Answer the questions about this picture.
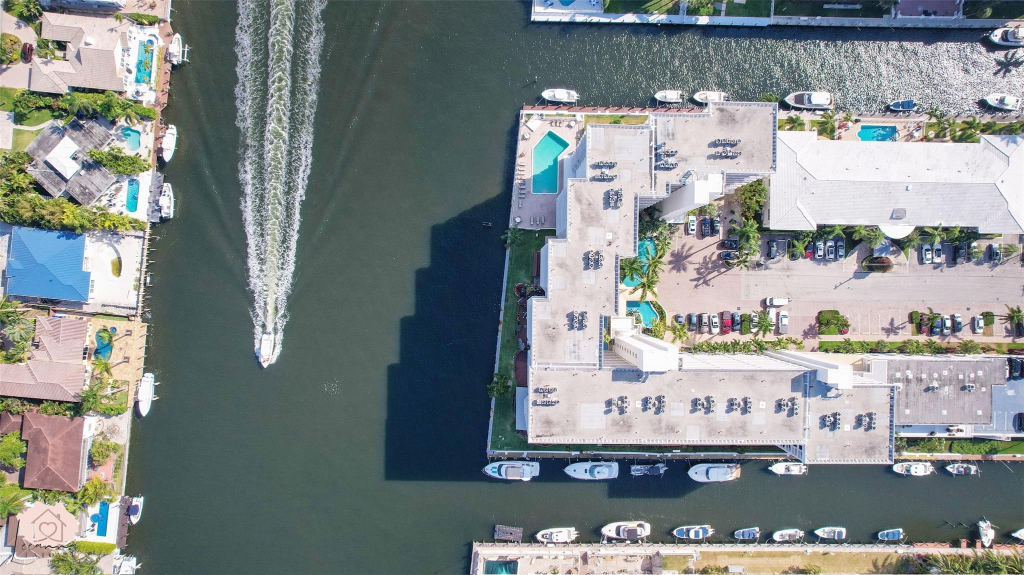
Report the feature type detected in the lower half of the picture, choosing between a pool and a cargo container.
pool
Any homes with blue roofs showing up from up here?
Yes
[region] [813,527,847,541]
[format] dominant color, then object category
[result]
white boat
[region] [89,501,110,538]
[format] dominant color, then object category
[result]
blue swimming pool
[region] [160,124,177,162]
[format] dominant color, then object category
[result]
white boat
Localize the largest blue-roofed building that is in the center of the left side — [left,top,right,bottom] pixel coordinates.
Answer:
[6,227,98,302]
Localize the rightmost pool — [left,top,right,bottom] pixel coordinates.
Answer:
[855,123,902,141]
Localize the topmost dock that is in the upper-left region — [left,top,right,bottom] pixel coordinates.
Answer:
[156,21,174,112]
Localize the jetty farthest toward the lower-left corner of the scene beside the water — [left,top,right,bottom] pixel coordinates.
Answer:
[116,495,134,549]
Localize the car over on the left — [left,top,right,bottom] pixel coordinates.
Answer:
[21,43,33,63]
